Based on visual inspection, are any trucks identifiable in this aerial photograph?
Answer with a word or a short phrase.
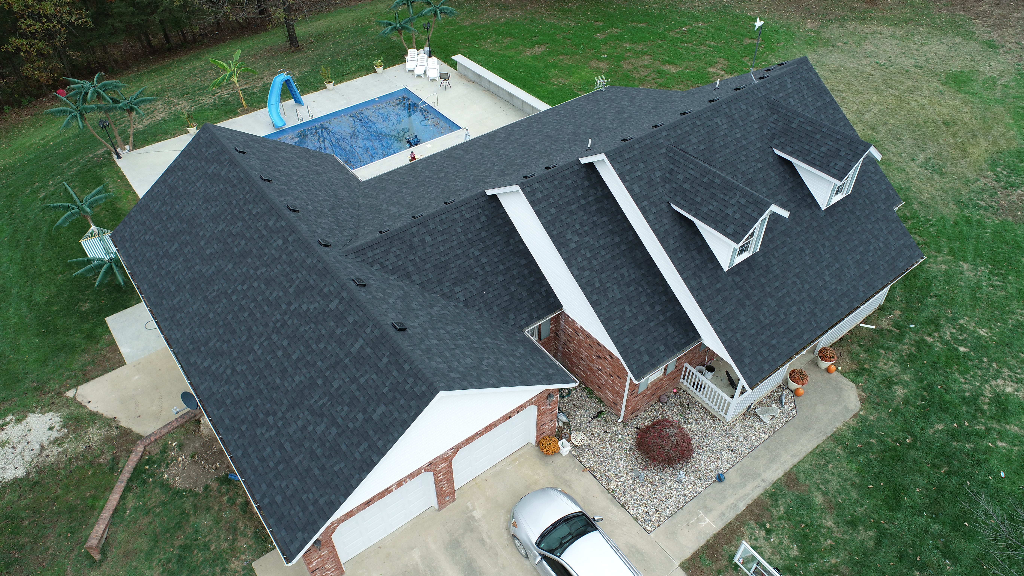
No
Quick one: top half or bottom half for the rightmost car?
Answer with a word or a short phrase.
bottom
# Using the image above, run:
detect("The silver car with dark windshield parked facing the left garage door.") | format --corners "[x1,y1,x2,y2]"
[504,486,632,576]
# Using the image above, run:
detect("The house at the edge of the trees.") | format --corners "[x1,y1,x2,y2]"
[109,56,927,576]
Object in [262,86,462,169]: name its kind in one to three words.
swimming pool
